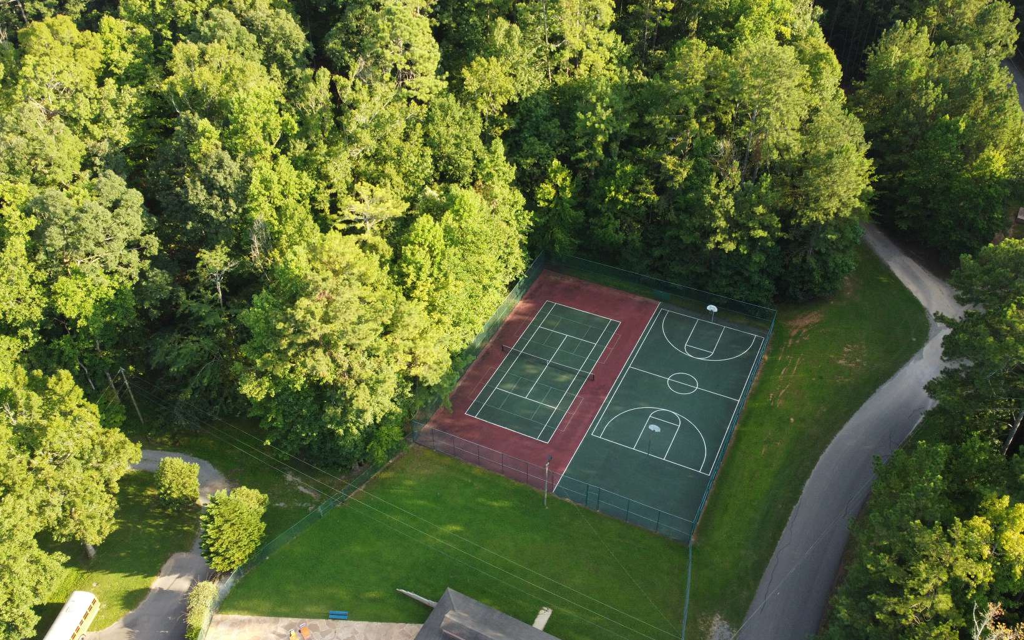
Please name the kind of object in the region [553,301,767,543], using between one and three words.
basketball court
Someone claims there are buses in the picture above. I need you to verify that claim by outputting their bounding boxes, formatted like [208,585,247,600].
[45,594,104,640]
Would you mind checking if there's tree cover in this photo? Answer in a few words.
Yes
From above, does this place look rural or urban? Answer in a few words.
rural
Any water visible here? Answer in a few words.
No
